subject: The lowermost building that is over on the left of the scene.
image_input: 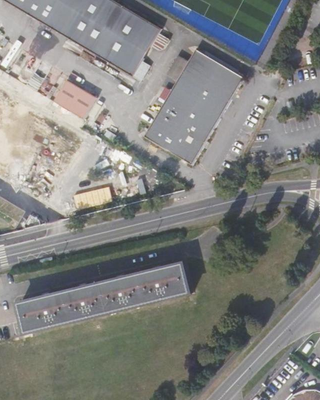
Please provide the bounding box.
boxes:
[14,260,191,334]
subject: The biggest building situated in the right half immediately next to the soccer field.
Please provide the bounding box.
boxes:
[142,49,246,168]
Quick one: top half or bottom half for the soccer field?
top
